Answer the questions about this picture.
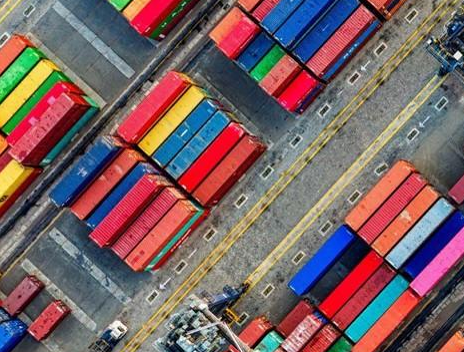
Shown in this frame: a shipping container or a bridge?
shipping container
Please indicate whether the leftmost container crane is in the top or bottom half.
bottom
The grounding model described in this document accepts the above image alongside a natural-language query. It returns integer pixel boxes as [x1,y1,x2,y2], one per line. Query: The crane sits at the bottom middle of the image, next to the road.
[147,283,260,352]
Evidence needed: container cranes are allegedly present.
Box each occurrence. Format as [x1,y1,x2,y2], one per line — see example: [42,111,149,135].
[422,3,464,86]
[147,283,260,352]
